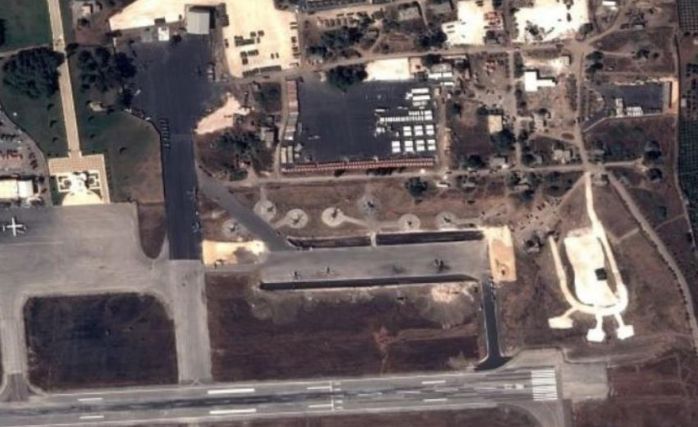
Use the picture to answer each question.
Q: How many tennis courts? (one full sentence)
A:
The photo contains no tennis courts.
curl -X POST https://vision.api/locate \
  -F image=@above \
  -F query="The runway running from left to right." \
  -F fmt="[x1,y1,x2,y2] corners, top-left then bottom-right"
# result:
[0,367,564,427]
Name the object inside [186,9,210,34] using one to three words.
hangar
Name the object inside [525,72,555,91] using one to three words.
house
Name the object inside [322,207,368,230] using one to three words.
helipad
